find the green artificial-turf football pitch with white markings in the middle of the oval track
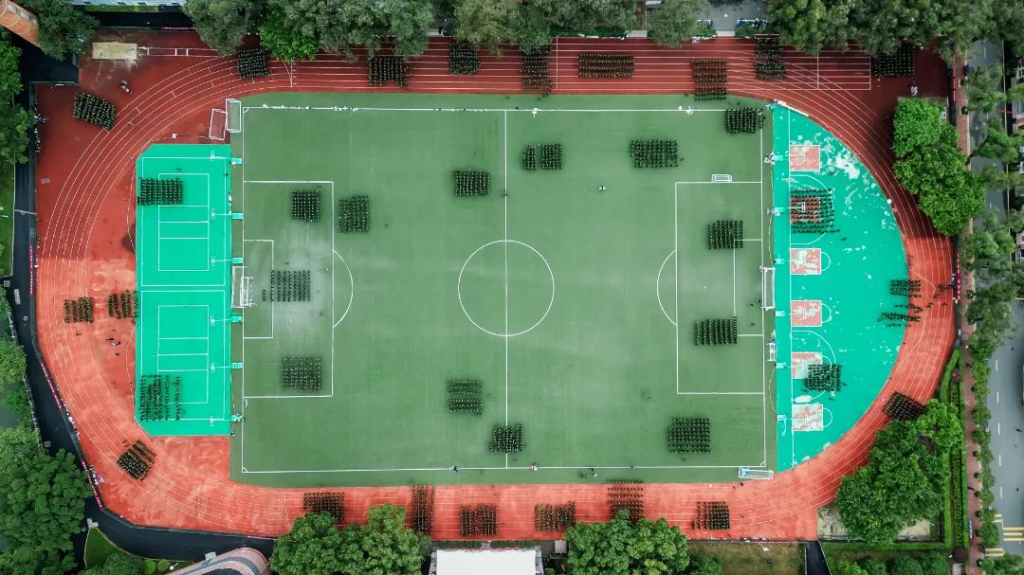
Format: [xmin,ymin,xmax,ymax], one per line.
[229,92,777,487]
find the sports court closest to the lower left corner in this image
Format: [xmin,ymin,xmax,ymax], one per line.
[136,288,230,436]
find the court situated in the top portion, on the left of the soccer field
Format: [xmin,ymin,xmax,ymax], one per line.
[136,144,231,288]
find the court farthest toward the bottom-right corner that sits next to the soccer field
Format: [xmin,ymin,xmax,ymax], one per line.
[774,105,907,471]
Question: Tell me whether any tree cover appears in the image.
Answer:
Yes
